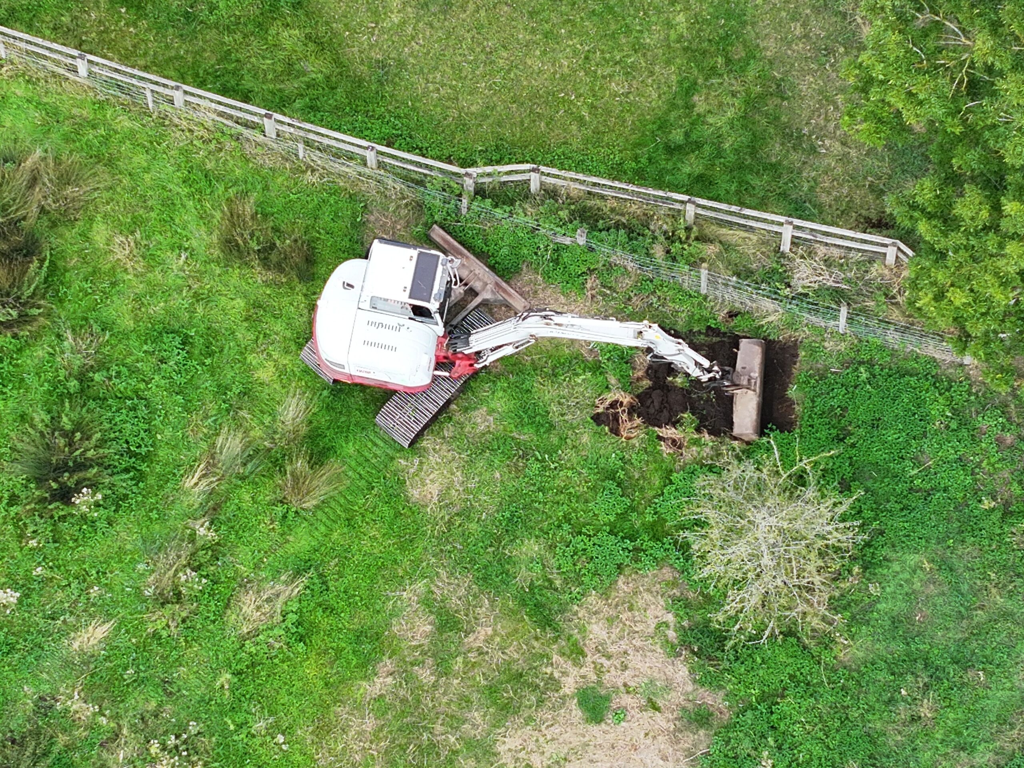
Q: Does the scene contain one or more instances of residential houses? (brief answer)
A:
No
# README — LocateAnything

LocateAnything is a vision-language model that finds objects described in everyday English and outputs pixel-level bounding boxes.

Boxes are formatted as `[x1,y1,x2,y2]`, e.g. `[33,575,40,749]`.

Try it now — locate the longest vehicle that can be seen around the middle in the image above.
[297,218,764,449]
